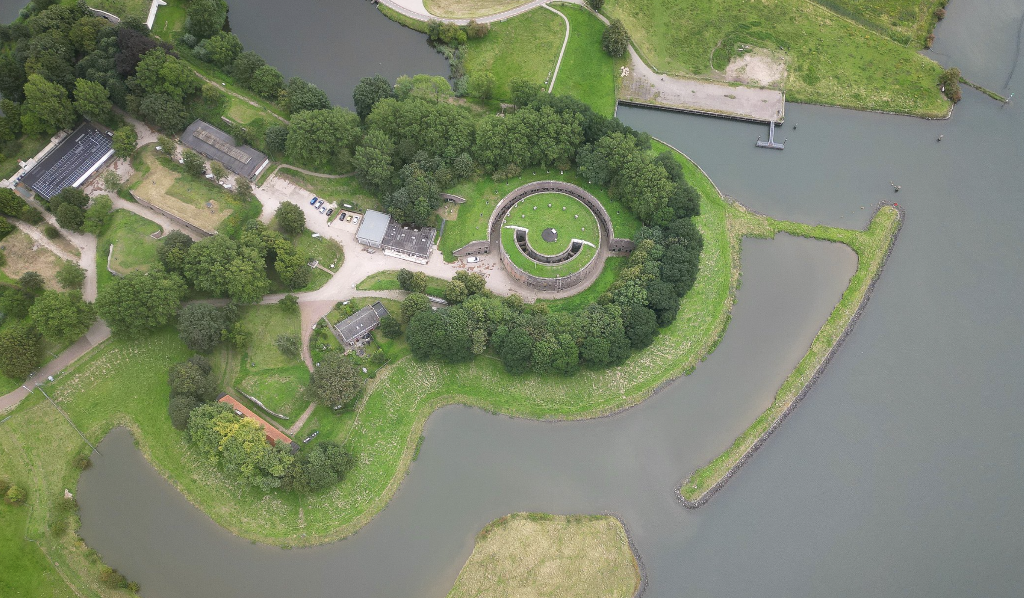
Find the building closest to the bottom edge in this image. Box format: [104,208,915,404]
[213,389,302,458]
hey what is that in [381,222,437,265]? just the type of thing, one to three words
building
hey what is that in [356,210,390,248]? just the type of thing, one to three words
building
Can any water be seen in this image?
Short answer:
Yes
